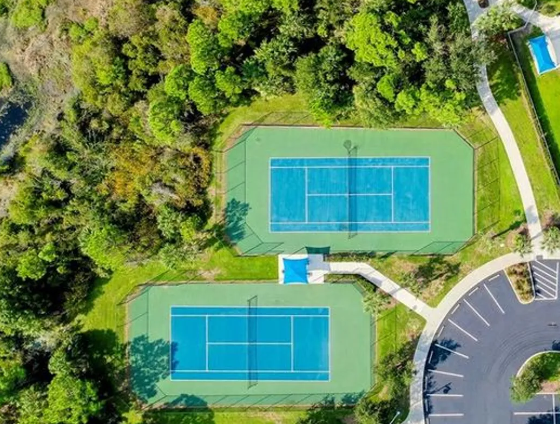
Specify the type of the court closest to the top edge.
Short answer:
tennis court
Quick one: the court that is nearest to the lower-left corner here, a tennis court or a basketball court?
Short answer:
tennis court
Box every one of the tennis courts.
[226,127,473,255]
[129,283,372,407]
